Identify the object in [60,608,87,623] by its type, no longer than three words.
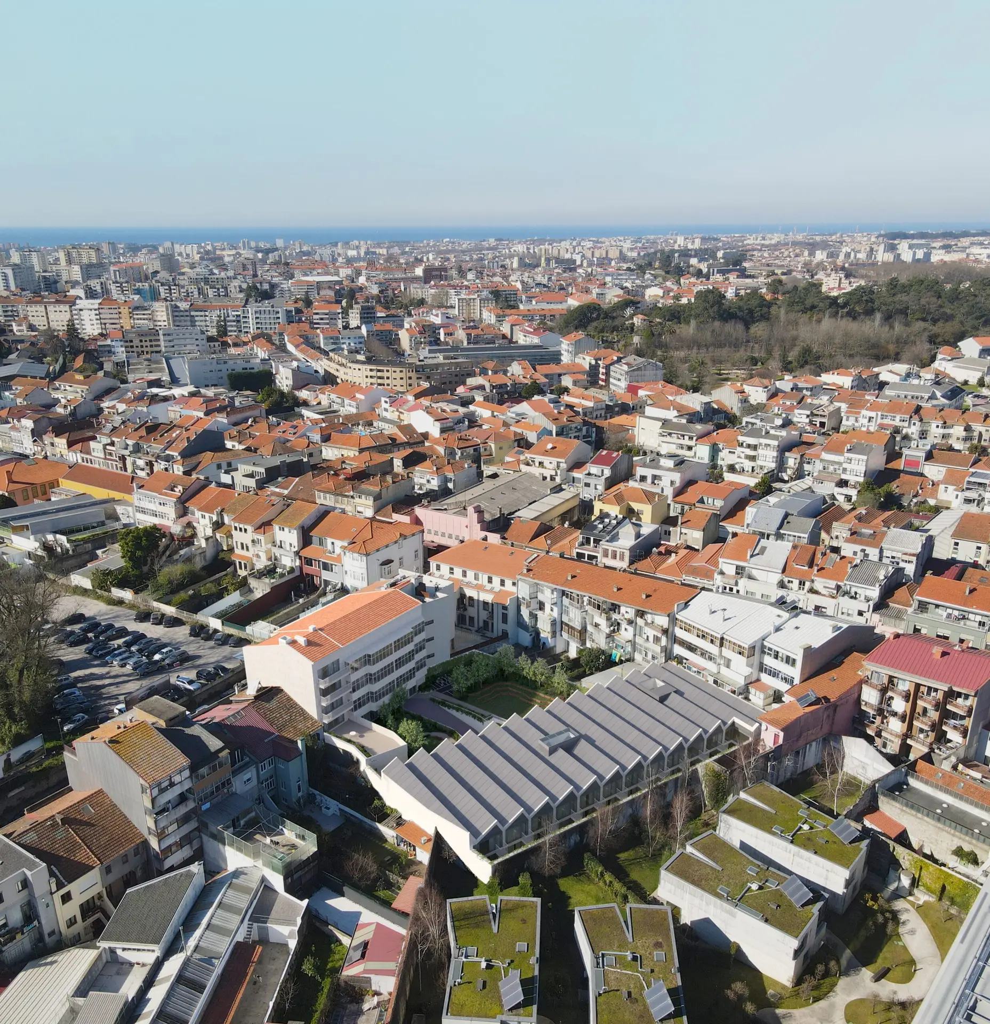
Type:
car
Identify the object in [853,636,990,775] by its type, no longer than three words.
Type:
building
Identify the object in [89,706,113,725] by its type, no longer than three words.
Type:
car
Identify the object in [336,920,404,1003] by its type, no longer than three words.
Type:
shed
